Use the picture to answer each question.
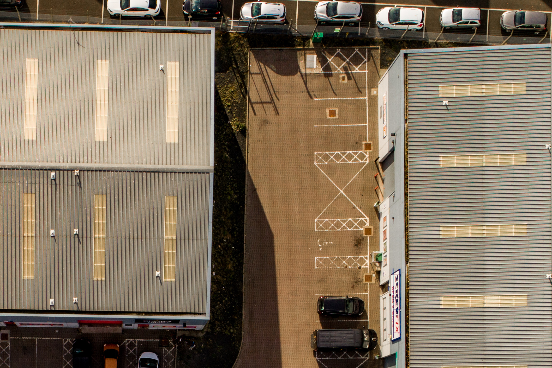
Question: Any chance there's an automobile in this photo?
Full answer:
Yes, there's an automobile down there.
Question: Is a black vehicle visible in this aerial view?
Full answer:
Yes, there is a black vehicle in the image.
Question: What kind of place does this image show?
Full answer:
This image shows an industrial area.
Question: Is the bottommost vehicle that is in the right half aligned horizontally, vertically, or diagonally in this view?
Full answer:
The bottommost vehicle that is in the right half is laid out horizontally.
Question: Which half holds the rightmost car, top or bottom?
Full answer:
It is in the top half that the rightmost car appears.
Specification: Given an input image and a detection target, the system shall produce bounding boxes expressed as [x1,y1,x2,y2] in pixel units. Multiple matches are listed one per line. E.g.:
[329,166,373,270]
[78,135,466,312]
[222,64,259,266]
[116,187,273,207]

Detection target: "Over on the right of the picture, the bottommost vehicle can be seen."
[311,327,377,353]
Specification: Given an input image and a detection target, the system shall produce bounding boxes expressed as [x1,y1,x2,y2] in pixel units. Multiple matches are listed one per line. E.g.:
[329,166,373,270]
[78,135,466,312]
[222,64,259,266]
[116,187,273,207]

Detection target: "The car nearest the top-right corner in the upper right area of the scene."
[501,8,550,34]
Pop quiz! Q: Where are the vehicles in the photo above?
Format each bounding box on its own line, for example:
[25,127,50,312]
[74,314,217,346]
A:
[373,5,420,31]
[137,352,161,368]
[107,0,160,18]
[100,343,121,368]
[440,4,484,28]
[315,1,364,25]
[501,8,550,34]
[311,327,377,353]
[240,0,287,24]
[71,340,93,368]
[182,0,222,19]
[317,293,365,317]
